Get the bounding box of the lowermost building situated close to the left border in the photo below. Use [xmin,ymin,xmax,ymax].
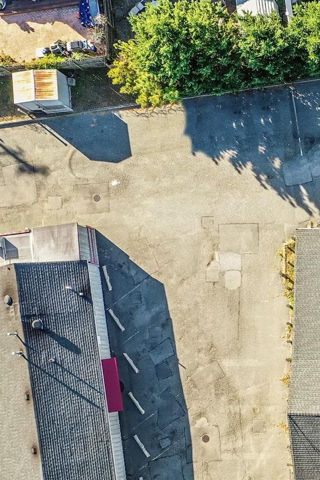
[0,223,127,480]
